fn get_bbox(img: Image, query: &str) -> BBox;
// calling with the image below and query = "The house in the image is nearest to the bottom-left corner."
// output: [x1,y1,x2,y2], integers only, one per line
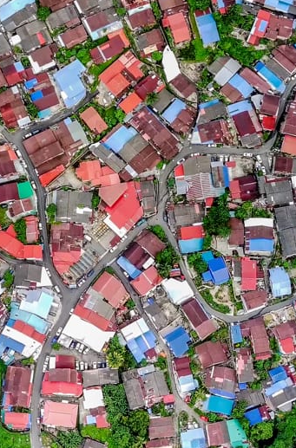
[2,409,33,431]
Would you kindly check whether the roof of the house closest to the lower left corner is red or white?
red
